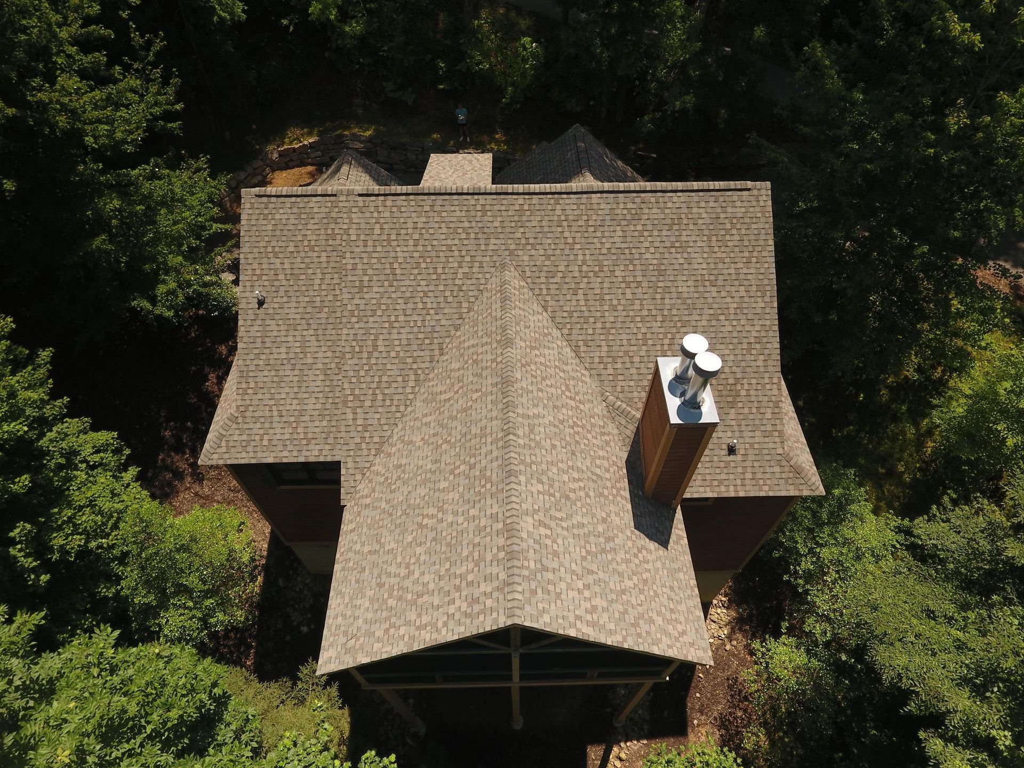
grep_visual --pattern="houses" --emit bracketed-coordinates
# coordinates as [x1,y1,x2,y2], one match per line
[197,125,827,736]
